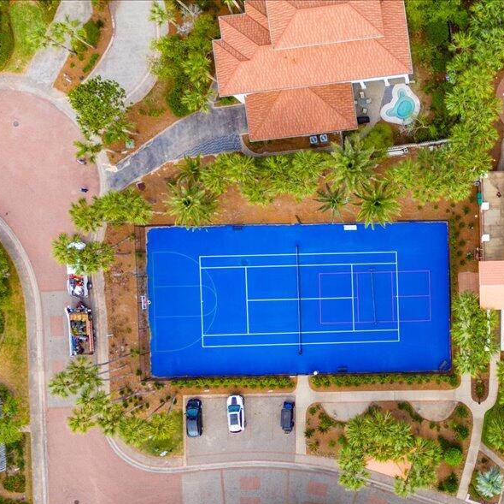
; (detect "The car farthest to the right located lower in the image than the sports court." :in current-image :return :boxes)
[276,401,295,437]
